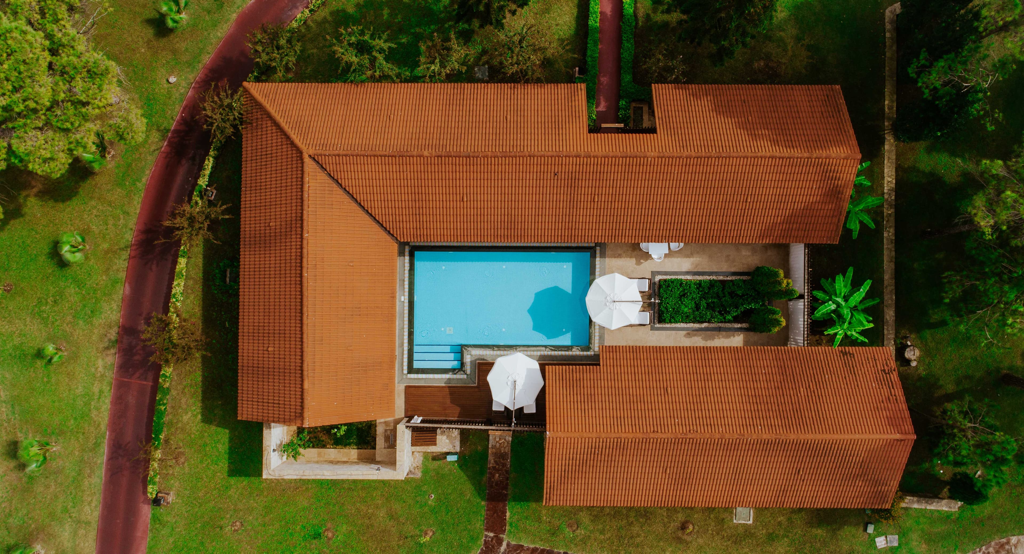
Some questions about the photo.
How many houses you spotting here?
2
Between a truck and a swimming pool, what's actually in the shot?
swimming pool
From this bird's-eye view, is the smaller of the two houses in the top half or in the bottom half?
bottom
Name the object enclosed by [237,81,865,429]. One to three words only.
house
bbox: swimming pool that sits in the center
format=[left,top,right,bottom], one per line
[414,252,591,369]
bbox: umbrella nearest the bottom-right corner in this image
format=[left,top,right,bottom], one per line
[584,272,662,330]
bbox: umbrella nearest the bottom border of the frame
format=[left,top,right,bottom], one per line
[486,350,544,428]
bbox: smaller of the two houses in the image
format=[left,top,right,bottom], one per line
[544,345,919,510]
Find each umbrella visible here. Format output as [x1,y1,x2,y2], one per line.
[486,350,544,428]
[584,272,662,330]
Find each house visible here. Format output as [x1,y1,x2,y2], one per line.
[237,81,865,429]
[544,345,919,510]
